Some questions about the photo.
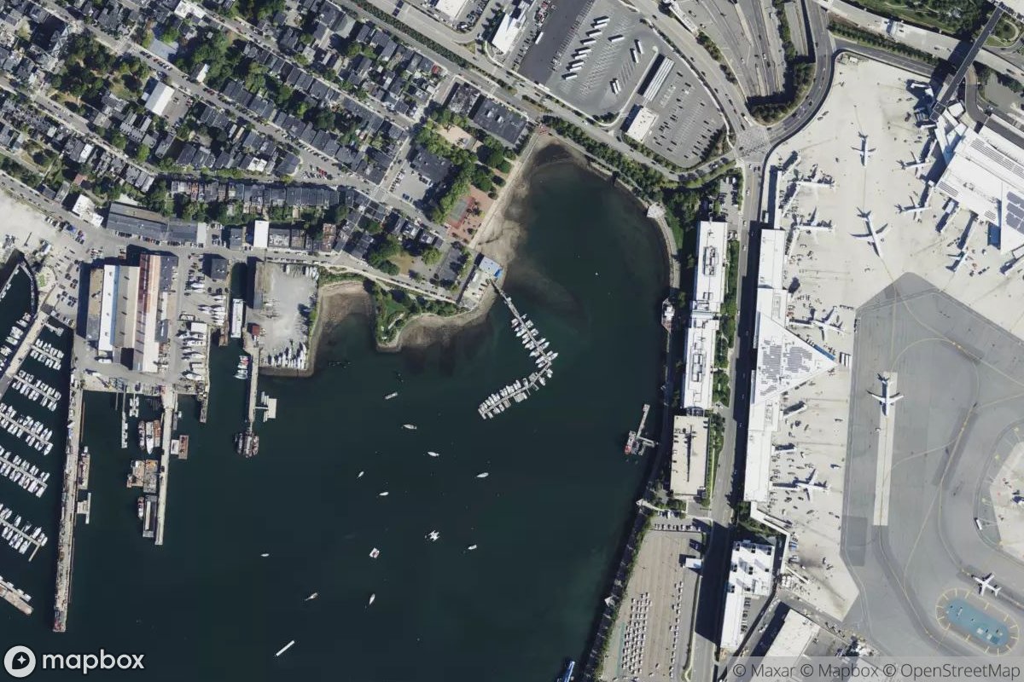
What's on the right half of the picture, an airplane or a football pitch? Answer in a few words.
airplane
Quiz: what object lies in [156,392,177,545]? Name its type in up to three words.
pier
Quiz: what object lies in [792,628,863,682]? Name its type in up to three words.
building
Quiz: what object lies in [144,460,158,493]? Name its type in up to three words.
ship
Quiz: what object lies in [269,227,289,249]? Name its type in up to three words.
house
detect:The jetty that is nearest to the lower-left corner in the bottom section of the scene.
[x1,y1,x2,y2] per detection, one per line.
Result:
[0,587,34,614]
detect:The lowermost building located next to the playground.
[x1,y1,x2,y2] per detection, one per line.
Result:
[410,145,452,186]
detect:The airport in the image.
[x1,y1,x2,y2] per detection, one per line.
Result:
[752,53,1024,682]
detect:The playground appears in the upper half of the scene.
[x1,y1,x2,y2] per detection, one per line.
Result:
[442,124,480,153]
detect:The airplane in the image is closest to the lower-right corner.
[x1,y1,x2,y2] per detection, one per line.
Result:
[972,573,1004,598]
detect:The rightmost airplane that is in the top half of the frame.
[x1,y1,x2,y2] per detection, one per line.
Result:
[951,249,970,275]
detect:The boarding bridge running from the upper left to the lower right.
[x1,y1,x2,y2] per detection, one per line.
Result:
[784,564,810,585]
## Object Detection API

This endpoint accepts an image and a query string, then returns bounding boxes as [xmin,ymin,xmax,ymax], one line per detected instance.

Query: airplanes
[851,132,879,168]
[871,373,904,417]
[972,573,1004,598]
[897,151,933,180]
[951,249,970,275]
[896,194,932,224]
[810,311,849,345]
[795,472,833,502]
[851,206,894,257]
[797,166,839,202]
[795,209,839,246]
